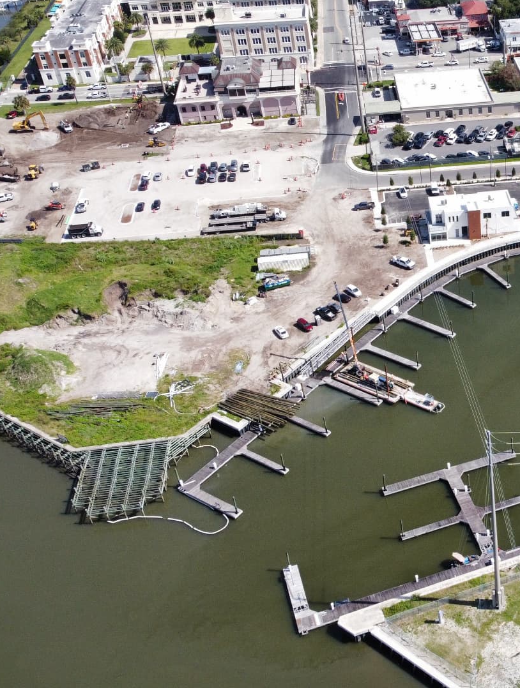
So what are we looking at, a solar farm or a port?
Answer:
port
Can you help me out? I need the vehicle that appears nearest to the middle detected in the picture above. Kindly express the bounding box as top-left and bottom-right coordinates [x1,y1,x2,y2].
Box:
[272,322,290,337]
